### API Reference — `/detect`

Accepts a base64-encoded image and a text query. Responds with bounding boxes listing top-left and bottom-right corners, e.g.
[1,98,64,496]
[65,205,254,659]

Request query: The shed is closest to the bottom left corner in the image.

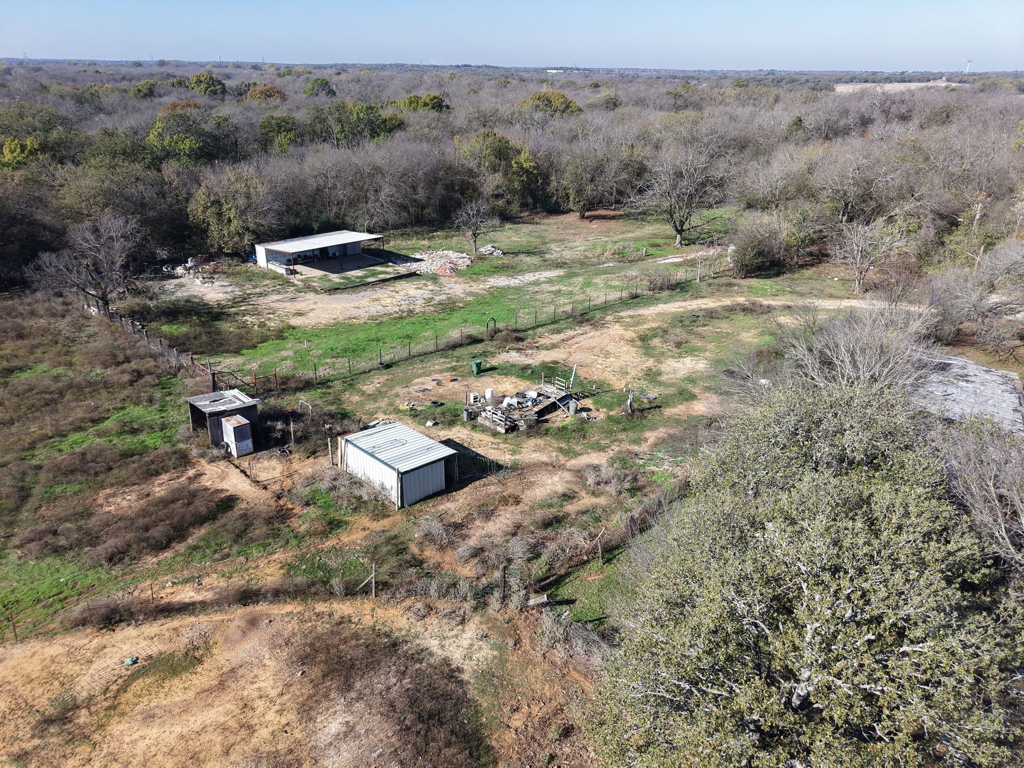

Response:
[179,385,261,449]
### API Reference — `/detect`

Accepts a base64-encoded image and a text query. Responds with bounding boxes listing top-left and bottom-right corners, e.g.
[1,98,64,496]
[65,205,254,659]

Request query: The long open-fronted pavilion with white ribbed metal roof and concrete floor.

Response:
[258,226,386,279]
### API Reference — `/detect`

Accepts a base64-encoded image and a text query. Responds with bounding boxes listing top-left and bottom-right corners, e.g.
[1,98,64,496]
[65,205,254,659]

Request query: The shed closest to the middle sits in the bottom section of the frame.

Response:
[325,416,461,516]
